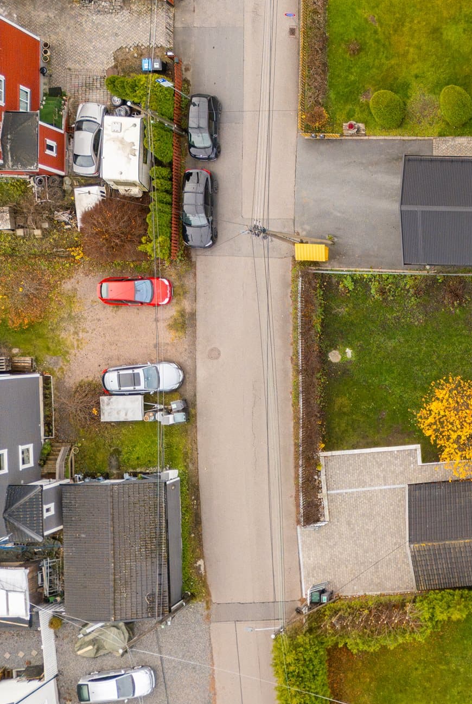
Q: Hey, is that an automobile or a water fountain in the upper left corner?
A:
automobile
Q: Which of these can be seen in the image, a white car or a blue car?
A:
white car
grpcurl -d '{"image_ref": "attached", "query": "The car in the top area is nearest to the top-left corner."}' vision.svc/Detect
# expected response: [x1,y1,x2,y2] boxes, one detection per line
[68,103,110,179]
